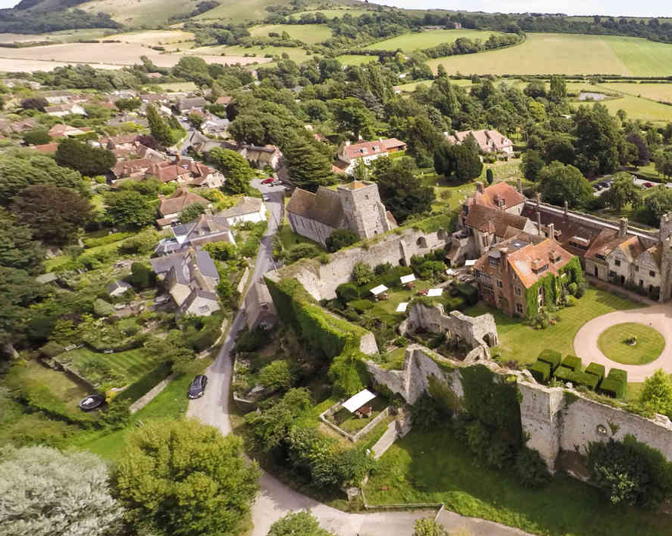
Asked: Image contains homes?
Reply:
Yes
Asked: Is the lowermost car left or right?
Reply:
left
